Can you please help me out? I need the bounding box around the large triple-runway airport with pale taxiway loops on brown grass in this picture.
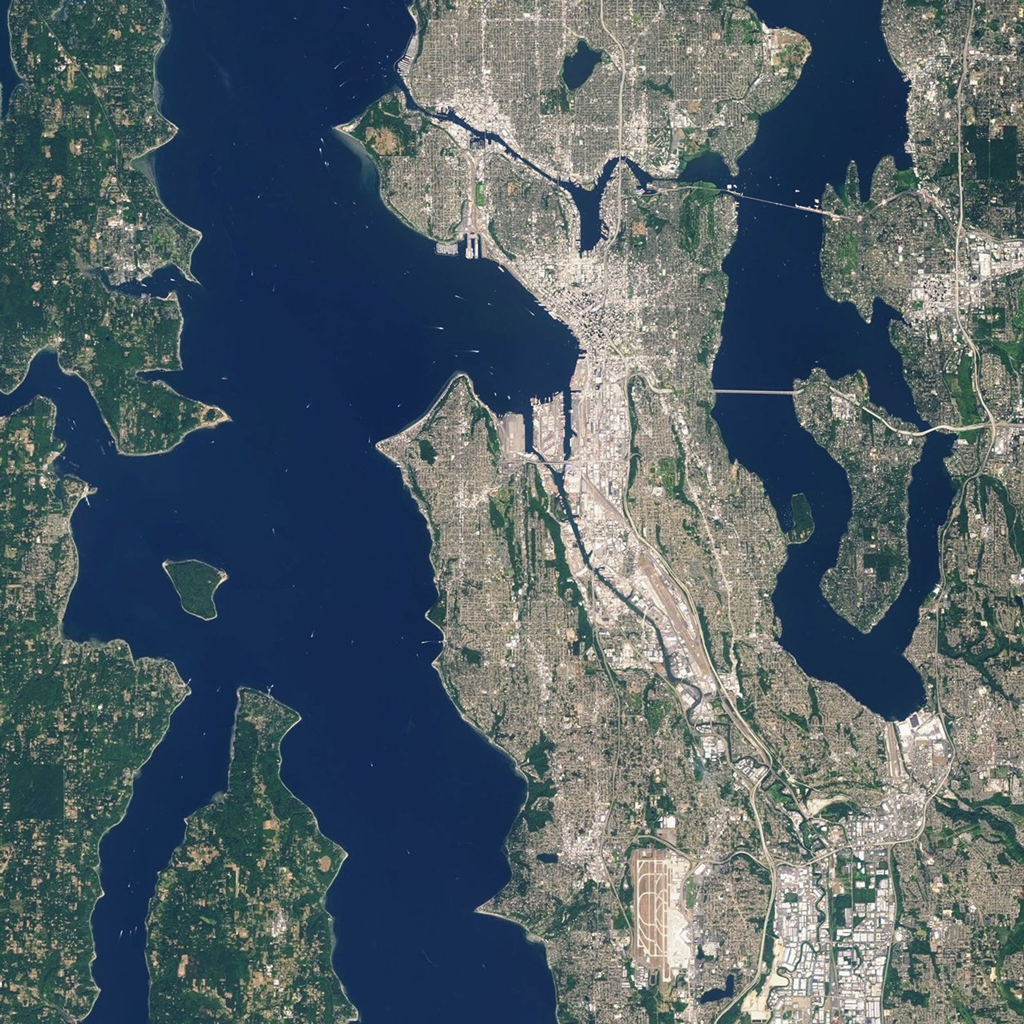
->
[628,851,693,993]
